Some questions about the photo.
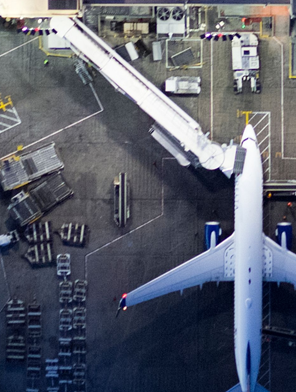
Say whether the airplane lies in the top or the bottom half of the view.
bottom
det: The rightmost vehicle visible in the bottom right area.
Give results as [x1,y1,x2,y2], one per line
[262,323,296,345]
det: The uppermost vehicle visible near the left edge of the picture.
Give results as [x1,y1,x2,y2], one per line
[0,142,64,192]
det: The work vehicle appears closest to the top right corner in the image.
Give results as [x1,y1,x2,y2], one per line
[231,33,260,92]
